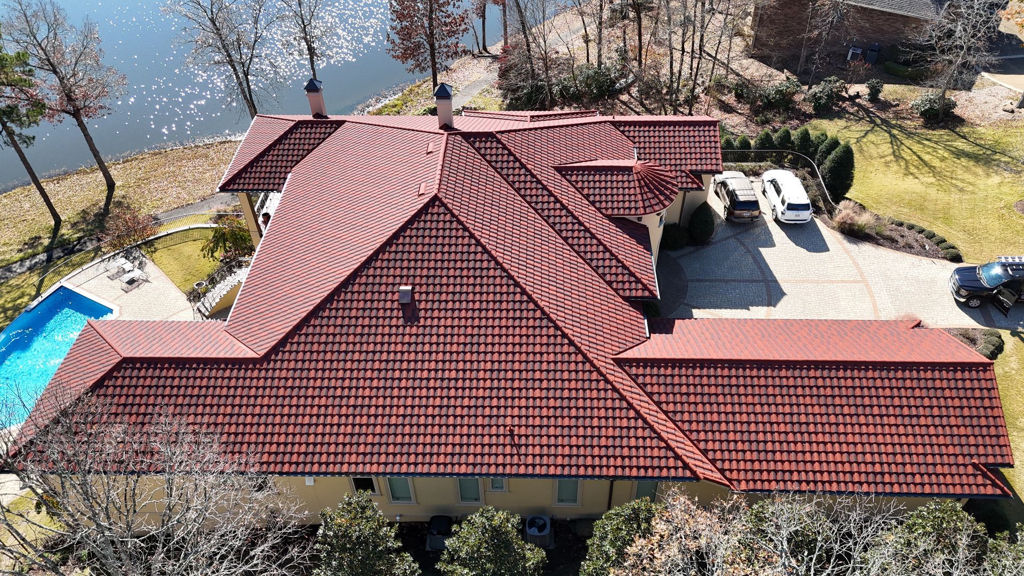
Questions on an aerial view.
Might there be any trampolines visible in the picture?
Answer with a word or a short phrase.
No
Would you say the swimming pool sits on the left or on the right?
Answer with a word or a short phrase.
left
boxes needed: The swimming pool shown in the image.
[0,282,120,432]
